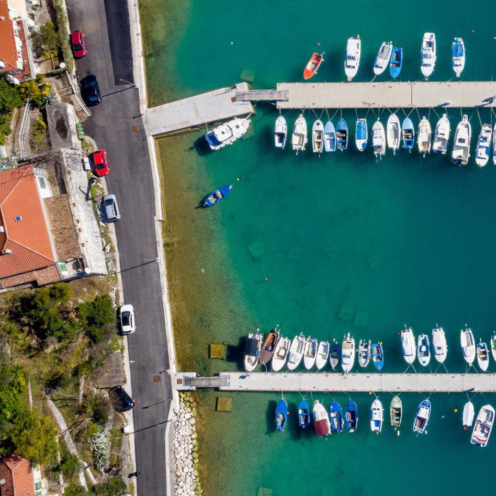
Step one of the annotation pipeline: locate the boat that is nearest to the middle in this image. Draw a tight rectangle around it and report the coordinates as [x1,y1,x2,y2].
[172,186,231,212]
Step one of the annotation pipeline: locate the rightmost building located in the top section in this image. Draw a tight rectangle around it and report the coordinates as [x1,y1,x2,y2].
[46,103,92,152]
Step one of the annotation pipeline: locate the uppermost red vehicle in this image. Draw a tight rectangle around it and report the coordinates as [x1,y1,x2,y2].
[66,28,86,57]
